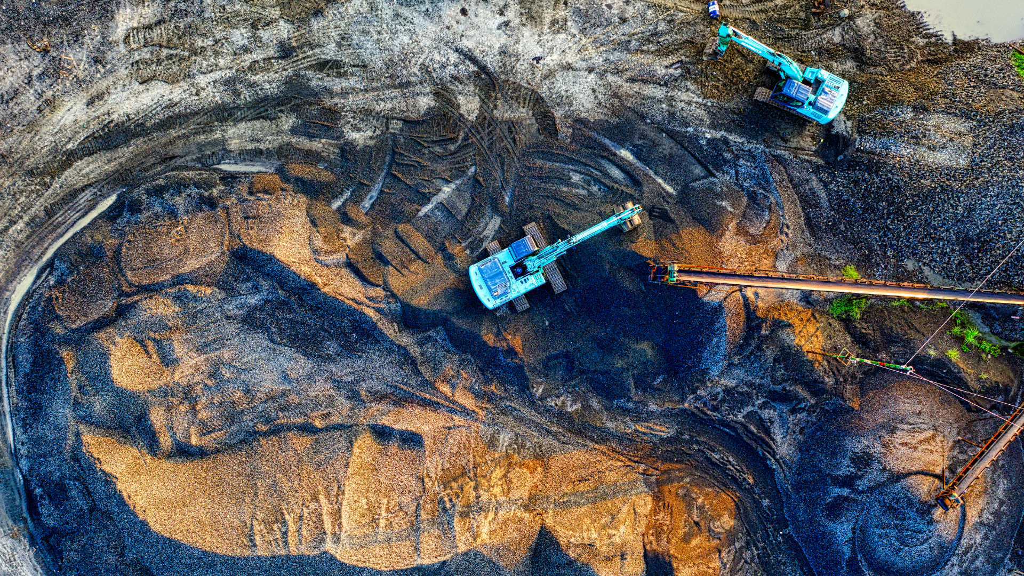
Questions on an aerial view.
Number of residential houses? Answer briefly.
0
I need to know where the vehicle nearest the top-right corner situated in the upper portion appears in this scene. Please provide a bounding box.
[699,11,853,137]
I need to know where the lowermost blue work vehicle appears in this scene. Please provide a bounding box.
[472,200,647,314]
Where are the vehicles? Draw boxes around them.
[472,200,647,314]
[699,11,853,137]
